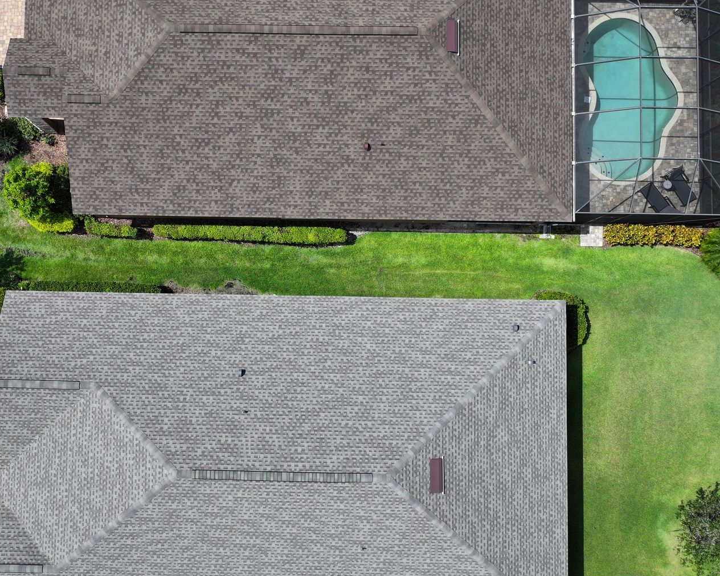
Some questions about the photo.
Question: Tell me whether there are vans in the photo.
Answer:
No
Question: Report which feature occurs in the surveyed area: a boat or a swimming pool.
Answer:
swimming pool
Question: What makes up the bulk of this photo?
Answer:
buildings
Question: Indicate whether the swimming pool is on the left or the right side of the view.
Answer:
right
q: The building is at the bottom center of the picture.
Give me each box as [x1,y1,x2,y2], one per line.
[0,291,568,576]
